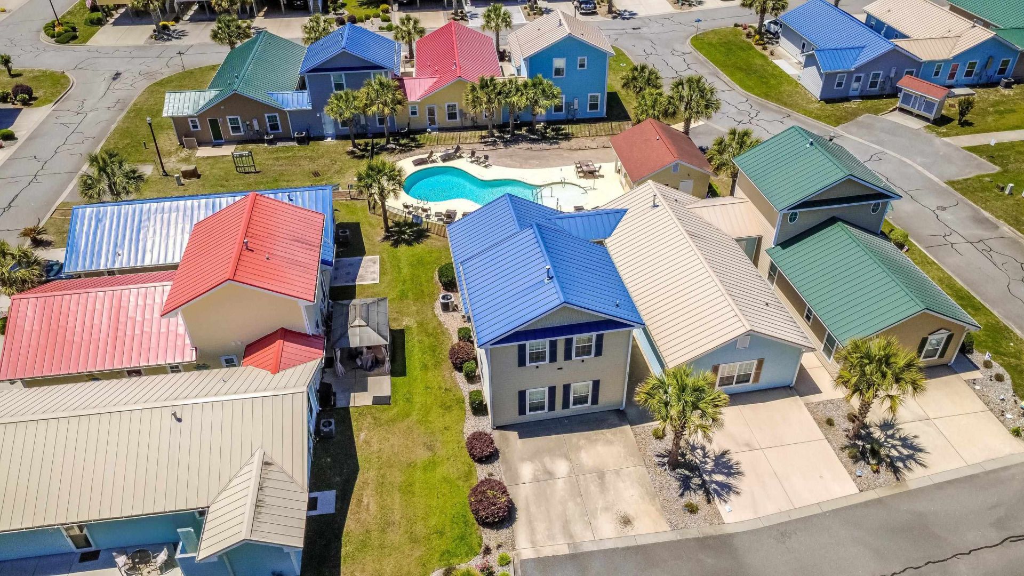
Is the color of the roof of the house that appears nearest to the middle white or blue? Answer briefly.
blue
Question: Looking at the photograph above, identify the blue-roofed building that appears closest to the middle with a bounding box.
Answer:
[445,190,646,431]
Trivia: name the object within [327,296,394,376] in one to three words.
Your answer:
gazebo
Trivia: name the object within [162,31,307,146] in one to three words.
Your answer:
house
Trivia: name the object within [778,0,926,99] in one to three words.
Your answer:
house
